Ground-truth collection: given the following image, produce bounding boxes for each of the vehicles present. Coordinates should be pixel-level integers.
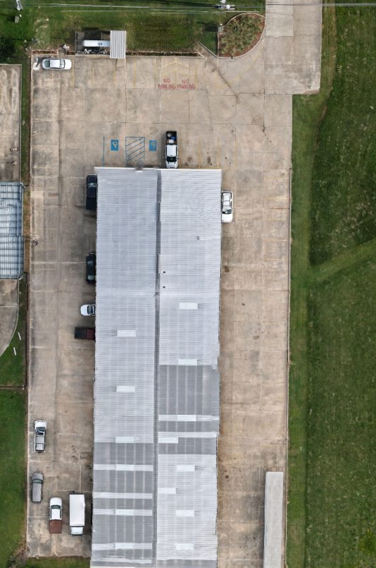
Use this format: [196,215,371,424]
[83,253,95,285]
[40,56,72,71]
[221,192,234,223]
[83,175,95,212]
[68,492,85,536]
[81,302,95,317]
[73,327,95,339]
[163,130,180,169]
[30,472,45,503]
[47,497,63,534]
